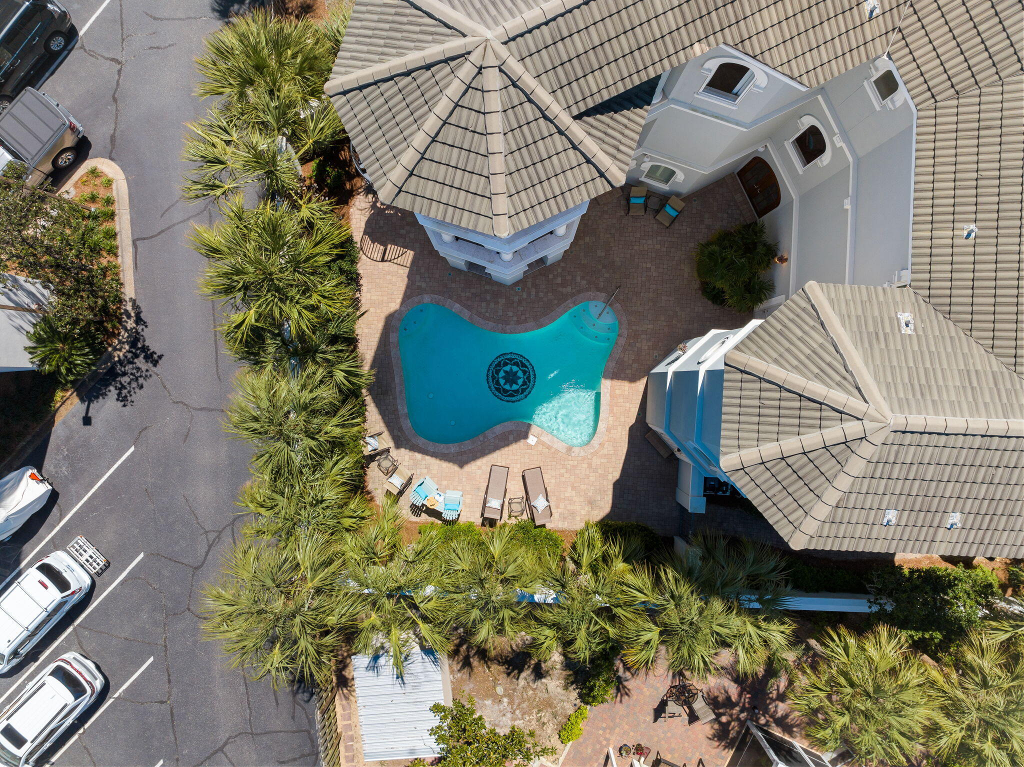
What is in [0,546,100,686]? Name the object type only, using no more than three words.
vehicle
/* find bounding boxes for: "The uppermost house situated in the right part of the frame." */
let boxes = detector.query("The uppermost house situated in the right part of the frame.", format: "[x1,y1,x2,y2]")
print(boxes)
[315,0,1024,559]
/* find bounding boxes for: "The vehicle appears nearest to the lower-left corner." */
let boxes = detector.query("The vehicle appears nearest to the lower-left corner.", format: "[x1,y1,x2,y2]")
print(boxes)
[0,644,114,767]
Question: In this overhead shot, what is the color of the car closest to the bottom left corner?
white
